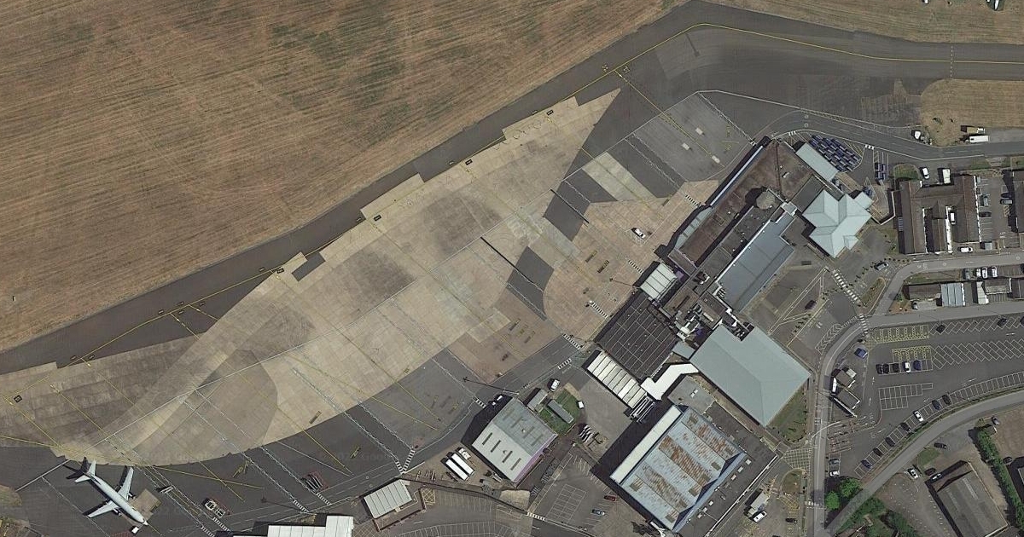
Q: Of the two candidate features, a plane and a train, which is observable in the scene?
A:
plane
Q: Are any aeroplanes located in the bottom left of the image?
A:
Yes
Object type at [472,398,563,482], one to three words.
hangar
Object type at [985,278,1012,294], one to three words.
shed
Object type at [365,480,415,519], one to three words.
building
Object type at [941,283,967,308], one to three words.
shed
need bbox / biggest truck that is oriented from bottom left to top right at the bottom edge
[749,490,770,512]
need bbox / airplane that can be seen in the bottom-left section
[75,460,149,525]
